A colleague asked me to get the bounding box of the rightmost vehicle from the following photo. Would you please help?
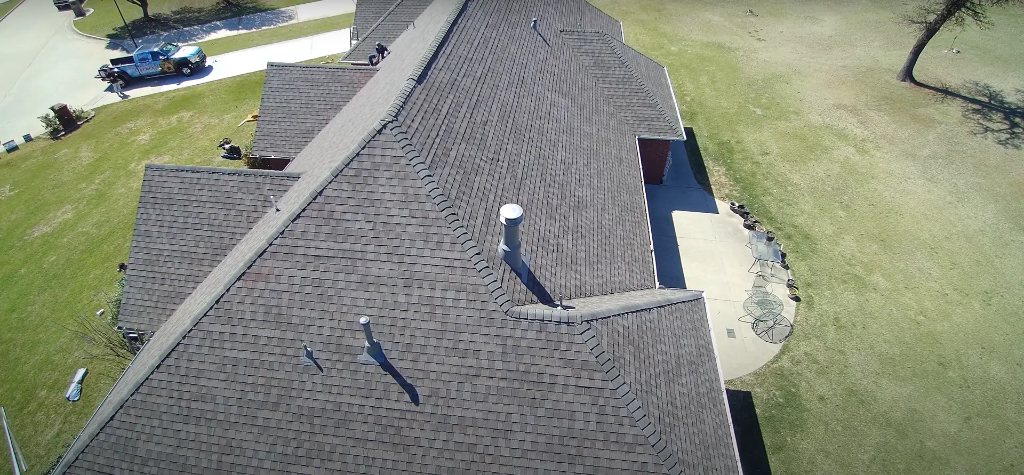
[98,39,204,87]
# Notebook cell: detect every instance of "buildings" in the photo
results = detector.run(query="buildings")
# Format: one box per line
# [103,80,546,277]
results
[29,0,745,475]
